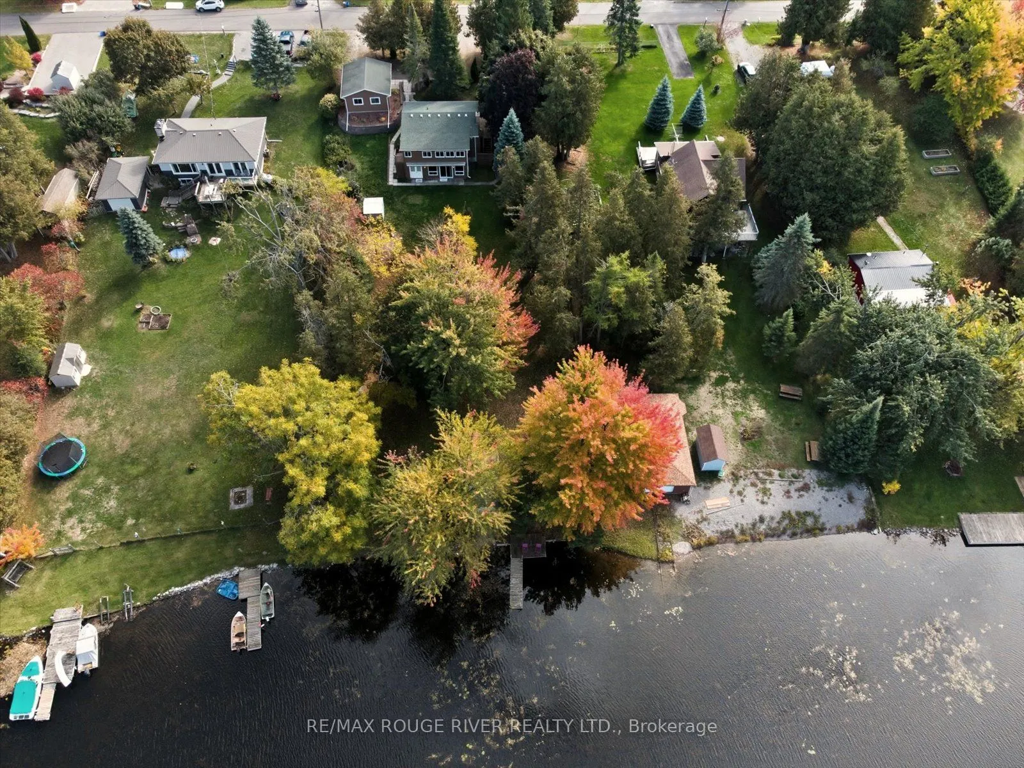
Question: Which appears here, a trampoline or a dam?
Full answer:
Looking from above, you can make out a trampoline.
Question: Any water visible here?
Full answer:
Yes, water shows up in the scene.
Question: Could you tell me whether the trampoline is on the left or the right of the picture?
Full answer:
It is on the left.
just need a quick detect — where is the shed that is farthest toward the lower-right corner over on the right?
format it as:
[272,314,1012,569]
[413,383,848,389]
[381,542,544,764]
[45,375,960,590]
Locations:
[688,422,728,473]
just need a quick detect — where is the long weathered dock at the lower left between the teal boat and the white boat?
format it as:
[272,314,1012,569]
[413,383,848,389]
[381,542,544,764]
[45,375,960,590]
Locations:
[35,606,85,722]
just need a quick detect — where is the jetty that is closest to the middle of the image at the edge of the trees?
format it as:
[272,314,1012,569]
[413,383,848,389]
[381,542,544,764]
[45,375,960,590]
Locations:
[493,539,546,610]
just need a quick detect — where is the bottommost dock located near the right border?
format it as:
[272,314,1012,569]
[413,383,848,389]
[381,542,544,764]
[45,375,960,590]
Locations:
[958,512,1024,548]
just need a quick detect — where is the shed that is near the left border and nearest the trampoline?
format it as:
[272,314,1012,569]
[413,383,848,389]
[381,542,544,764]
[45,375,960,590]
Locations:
[49,337,89,389]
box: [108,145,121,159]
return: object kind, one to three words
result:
vehicle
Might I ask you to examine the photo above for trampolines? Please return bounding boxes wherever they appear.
[33,425,100,481]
